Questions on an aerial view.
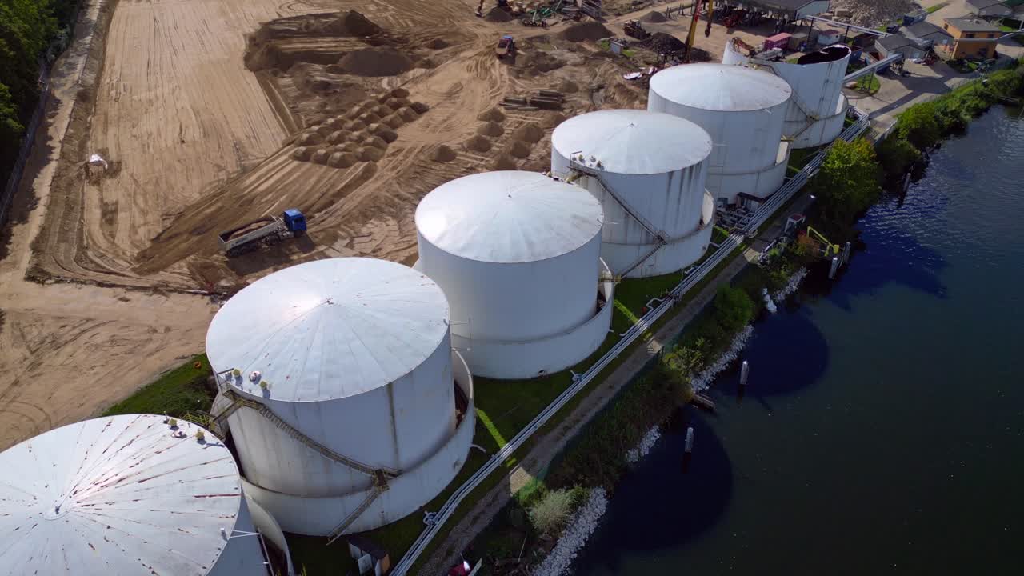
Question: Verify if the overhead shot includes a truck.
Yes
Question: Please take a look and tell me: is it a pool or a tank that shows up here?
tank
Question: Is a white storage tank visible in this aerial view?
Yes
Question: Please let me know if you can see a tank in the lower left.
Yes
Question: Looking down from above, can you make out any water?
Yes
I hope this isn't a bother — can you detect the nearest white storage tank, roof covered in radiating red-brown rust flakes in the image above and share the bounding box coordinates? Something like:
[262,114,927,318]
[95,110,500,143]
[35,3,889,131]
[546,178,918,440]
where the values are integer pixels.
[0,413,277,576]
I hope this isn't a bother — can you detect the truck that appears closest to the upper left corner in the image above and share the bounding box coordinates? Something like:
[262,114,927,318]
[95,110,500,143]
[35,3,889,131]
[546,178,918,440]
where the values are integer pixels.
[210,208,305,256]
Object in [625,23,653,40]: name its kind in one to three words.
work vehicle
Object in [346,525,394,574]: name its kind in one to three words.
shed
